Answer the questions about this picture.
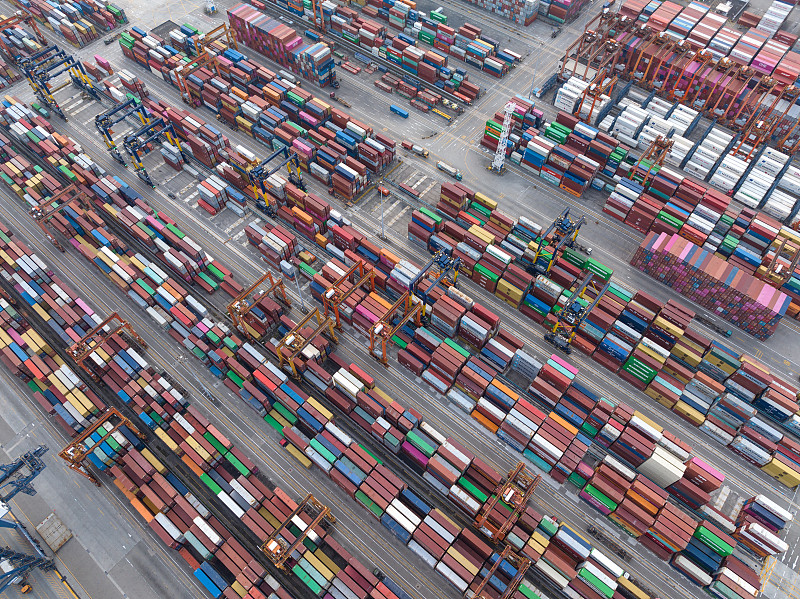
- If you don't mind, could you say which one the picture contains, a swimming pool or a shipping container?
shipping container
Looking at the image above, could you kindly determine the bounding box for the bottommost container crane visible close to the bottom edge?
[465,540,533,599]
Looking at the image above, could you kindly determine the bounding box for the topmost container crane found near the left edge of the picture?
[0,11,55,66]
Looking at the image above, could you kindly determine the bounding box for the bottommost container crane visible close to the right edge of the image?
[759,238,800,294]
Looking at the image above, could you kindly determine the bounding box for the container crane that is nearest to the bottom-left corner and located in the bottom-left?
[0,437,59,587]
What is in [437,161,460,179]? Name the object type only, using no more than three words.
vehicle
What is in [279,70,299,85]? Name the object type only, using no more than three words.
vehicle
